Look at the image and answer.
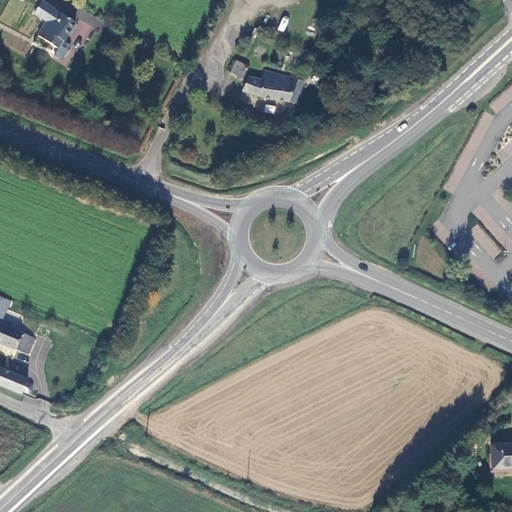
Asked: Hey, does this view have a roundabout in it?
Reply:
Yes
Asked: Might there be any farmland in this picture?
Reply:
Yes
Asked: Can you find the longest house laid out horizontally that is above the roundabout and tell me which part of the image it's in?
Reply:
top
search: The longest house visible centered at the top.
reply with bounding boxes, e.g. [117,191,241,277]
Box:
[242,70,305,104]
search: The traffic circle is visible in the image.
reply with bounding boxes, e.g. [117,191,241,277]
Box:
[163,104,421,288]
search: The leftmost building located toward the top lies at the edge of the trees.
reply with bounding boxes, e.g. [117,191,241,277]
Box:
[34,0,76,59]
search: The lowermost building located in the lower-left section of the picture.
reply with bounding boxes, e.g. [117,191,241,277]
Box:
[0,368,32,396]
